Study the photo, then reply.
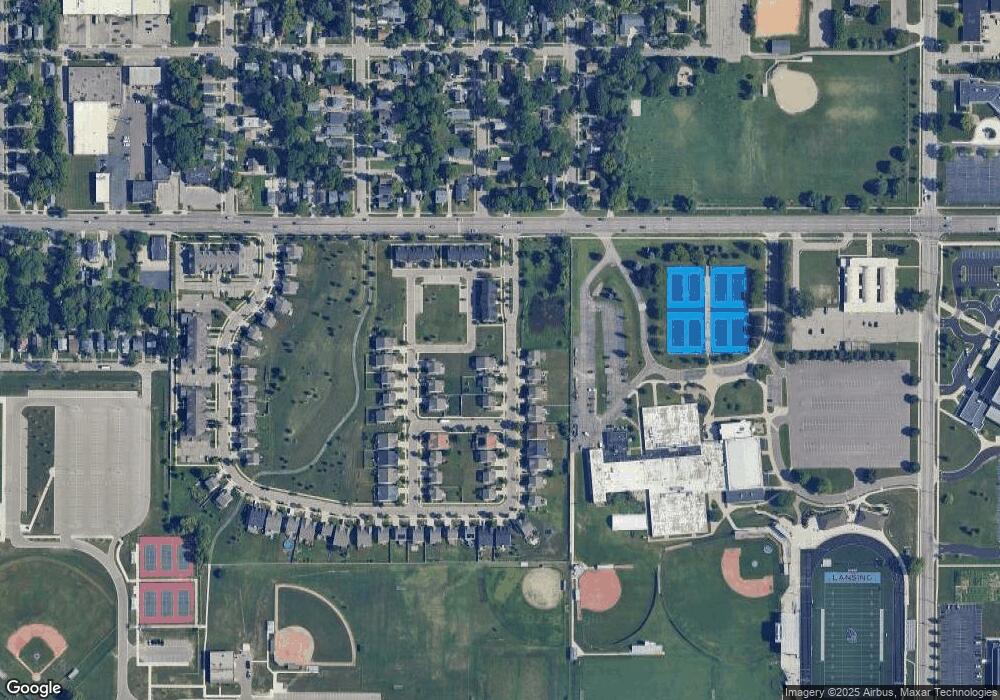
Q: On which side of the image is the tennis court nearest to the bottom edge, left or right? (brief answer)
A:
left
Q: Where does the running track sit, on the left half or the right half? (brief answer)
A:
right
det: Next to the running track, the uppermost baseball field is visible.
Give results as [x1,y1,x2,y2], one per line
[722,545,773,599]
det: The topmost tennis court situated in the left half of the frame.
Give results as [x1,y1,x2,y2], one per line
[140,536,194,579]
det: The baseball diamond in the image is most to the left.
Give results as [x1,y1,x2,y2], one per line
[0,555,117,681]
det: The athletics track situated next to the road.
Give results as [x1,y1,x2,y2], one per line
[801,534,904,700]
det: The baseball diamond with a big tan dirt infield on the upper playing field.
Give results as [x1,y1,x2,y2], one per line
[765,62,817,114]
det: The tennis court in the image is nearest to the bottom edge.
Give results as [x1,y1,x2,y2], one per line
[140,582,194,624]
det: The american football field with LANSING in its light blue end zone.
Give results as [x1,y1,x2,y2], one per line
[812,544,893,700]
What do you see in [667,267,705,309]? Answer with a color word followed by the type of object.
blue tennis court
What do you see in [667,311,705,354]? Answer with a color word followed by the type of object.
blue tennis court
